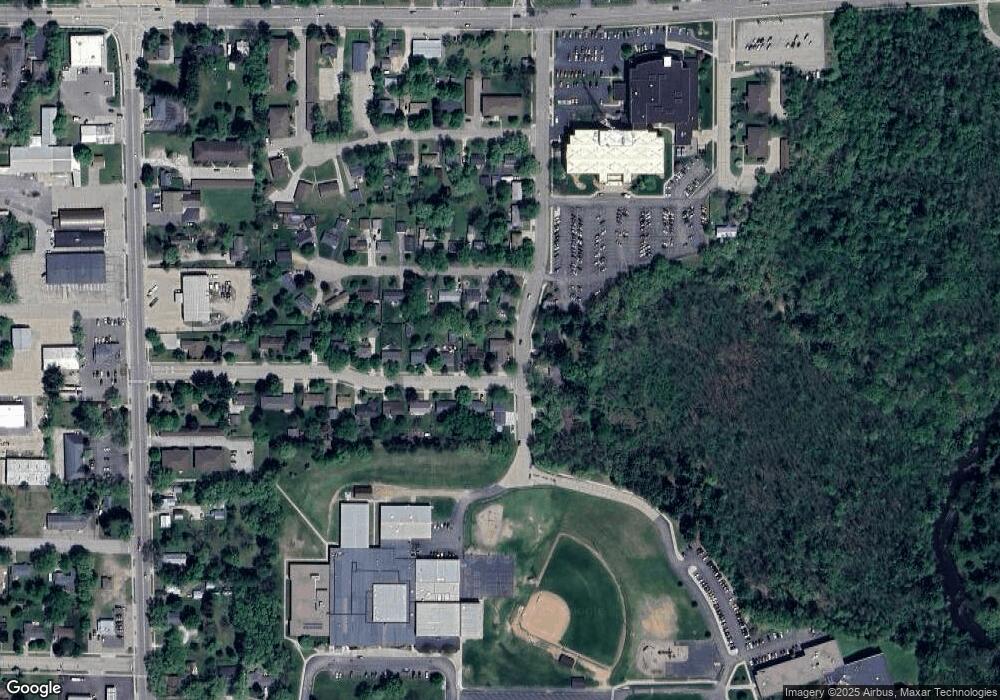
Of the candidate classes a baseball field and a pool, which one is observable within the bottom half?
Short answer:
baseball field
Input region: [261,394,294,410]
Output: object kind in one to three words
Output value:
house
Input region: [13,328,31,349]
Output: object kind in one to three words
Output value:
shed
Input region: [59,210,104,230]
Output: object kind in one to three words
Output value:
building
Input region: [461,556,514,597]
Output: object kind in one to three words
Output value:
basketball court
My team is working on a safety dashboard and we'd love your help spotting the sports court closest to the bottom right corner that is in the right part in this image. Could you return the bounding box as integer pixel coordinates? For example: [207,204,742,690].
[666,639,720,676]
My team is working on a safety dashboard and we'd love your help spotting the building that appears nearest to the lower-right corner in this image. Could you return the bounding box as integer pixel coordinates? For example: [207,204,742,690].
[755,640,844,700]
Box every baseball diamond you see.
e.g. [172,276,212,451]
[511,534,626,682]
